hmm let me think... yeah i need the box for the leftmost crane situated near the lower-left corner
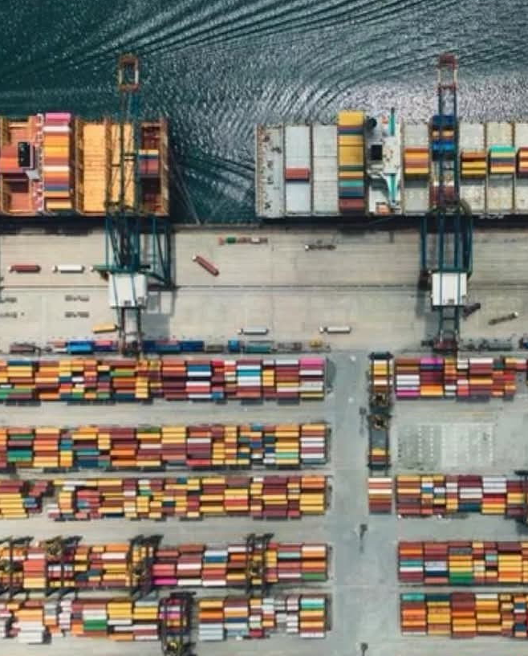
[0,529,33,598]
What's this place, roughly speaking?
port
